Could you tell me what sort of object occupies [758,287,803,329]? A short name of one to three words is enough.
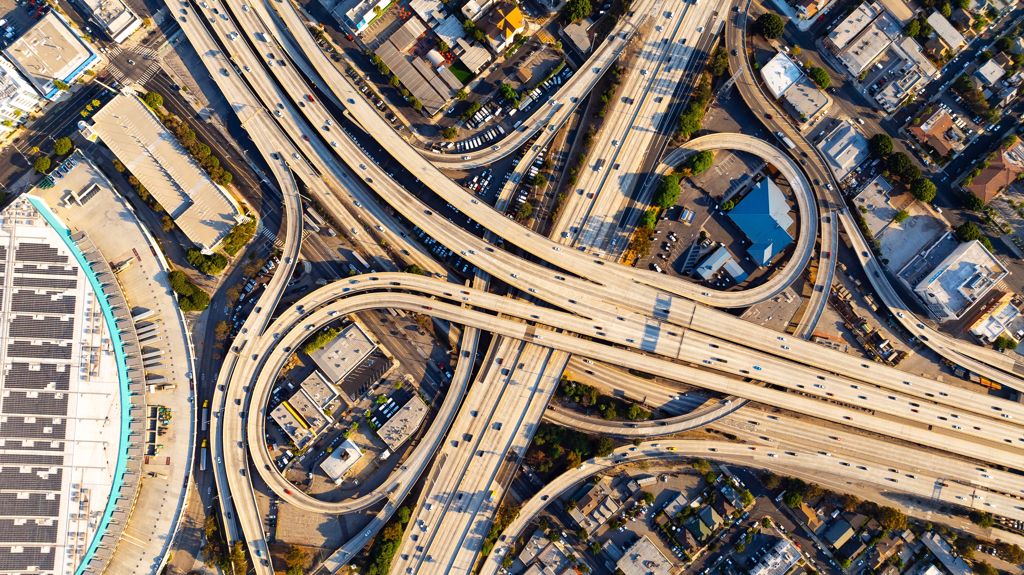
building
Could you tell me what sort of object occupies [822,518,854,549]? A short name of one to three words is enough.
house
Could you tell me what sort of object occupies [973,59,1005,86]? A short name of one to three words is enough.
house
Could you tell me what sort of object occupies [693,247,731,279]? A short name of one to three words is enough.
shed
